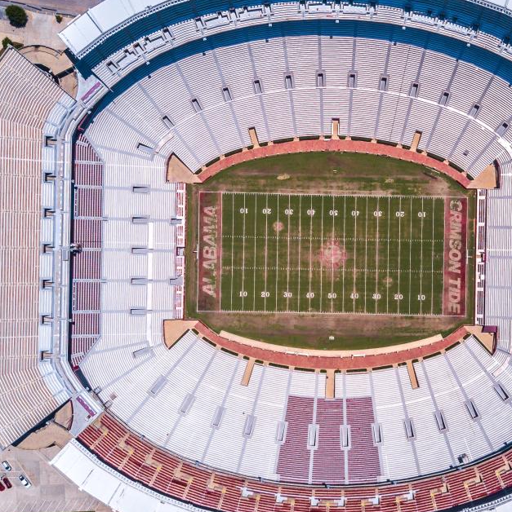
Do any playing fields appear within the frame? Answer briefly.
Yes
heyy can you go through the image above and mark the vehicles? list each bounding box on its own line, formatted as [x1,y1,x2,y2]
[18,474,31,489]
[2,476,14,489]
[0,481,6,491]
[1,459,13,473]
